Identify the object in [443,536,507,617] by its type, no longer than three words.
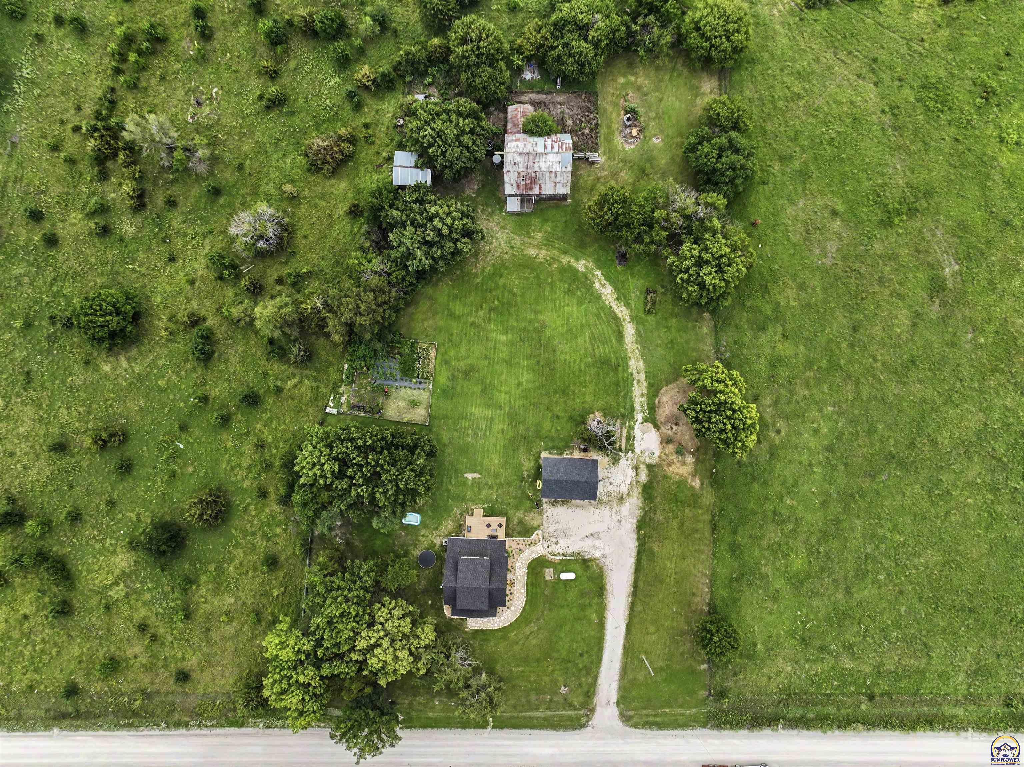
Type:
house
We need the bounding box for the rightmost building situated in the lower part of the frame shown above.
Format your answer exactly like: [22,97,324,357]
[541,457,599,501]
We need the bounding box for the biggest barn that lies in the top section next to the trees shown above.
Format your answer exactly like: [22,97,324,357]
[495,134,573,199]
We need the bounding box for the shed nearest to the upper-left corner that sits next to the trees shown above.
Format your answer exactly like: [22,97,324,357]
[389,151,431,186]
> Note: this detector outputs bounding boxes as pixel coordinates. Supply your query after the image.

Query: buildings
[389,151,431,186]
[495,134,573,199]
[443,536,507,617]
[541,457,599,501]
